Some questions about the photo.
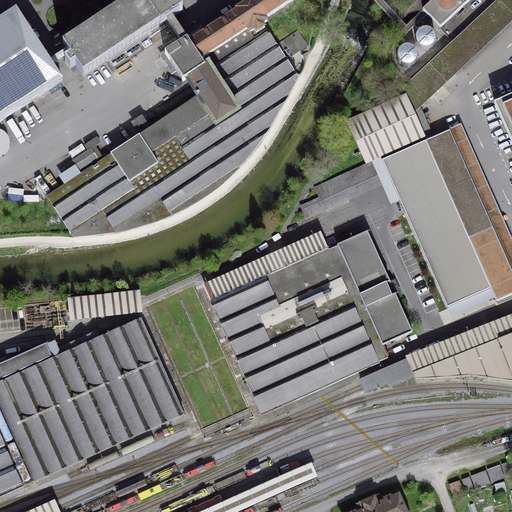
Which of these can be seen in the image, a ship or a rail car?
rail car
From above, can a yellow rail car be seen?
Yes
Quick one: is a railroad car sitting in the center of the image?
No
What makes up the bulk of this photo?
buildings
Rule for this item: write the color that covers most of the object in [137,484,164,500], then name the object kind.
yellow rail car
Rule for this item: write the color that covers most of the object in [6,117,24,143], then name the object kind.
white vehicle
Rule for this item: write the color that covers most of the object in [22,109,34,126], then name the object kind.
white vehicle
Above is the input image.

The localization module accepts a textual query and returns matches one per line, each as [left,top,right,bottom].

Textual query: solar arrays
[0,51,46,110]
